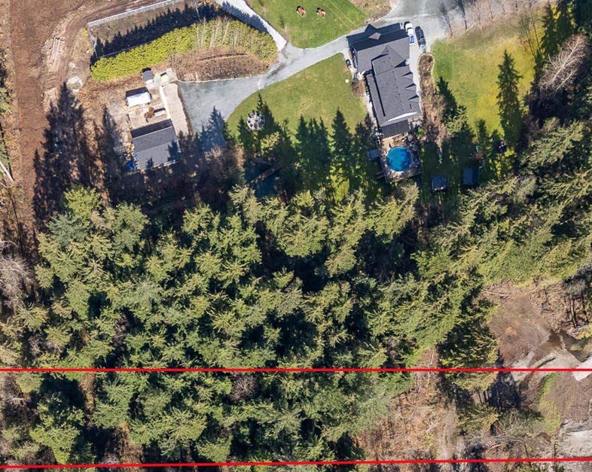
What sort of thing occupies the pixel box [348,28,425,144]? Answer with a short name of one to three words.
house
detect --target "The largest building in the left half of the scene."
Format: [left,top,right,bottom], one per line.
[132,127,182,172]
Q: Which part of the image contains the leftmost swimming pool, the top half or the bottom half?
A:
top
